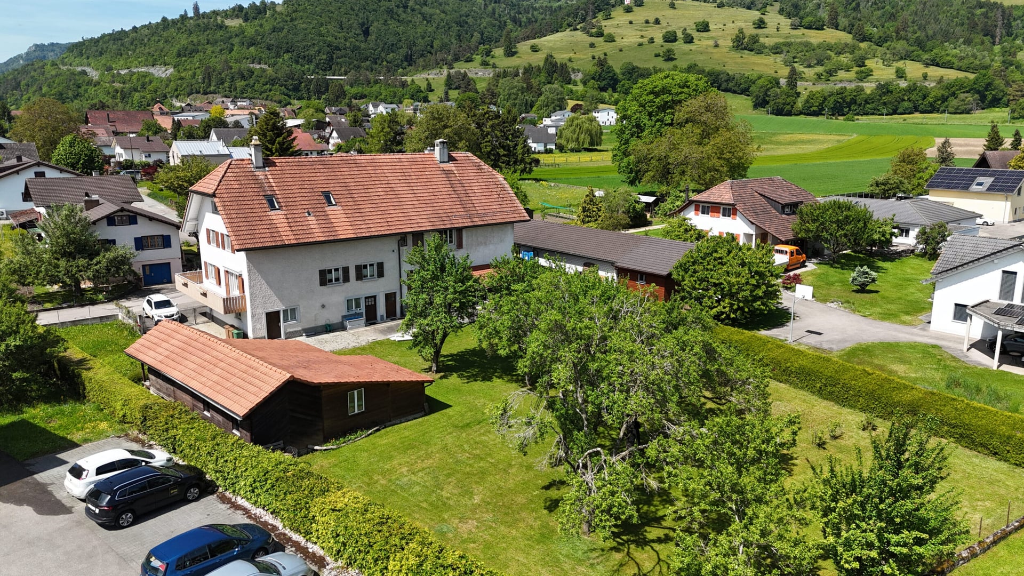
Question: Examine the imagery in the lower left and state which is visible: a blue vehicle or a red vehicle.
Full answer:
Visible in the lower left is a blue vehicle.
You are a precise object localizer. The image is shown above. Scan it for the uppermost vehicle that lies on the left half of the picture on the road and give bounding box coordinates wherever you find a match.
[147,290,178,320]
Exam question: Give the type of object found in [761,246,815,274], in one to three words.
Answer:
truck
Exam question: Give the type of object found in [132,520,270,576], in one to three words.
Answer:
car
